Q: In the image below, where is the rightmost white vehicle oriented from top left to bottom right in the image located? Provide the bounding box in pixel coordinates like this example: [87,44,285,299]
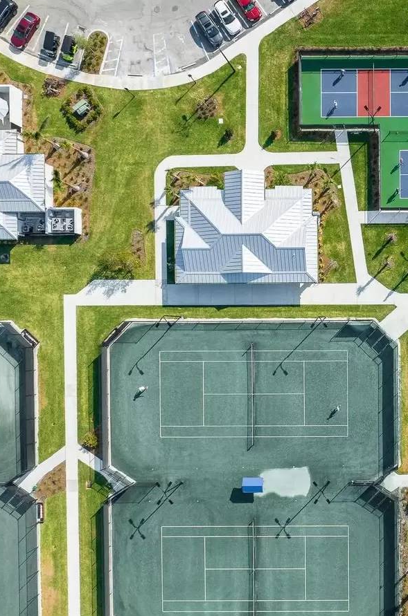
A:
[212,0,242,38]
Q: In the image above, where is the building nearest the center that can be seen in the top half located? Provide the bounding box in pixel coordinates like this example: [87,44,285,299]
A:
[164,166,318,284]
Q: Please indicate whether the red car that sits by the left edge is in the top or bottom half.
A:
top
